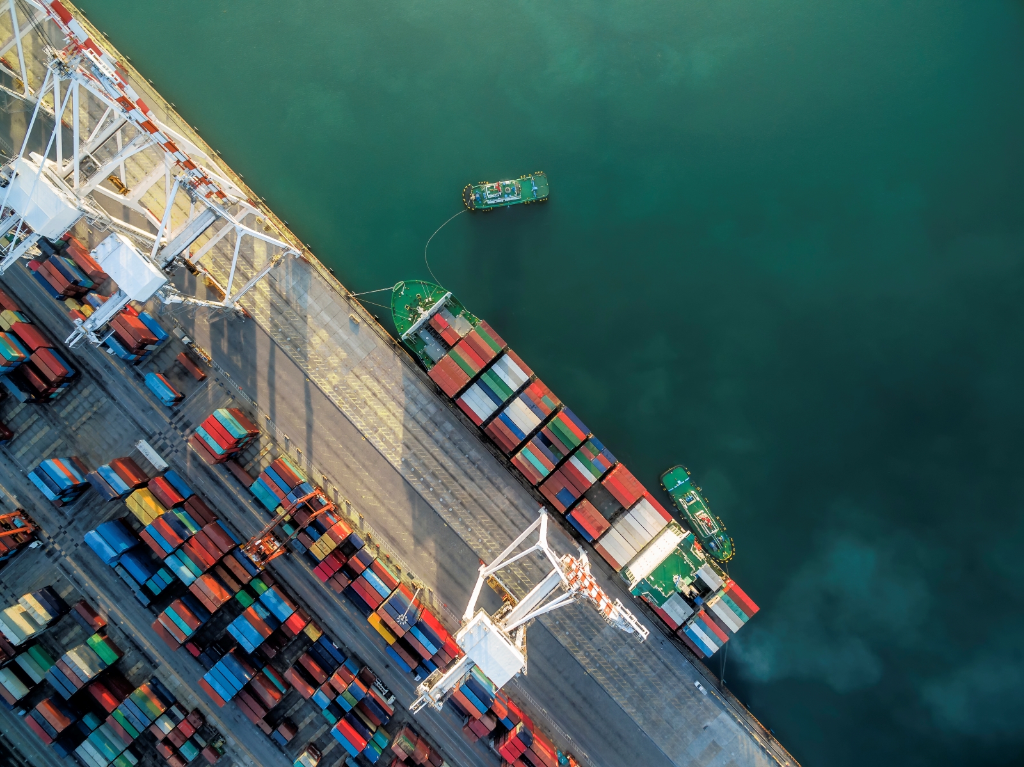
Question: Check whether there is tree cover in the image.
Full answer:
No, there's no tree cover in this view.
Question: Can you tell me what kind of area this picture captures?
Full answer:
This looks like a port.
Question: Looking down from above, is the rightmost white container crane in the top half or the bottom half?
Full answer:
Seen from above, the rightmost white container crane lies in the bottom half of the view.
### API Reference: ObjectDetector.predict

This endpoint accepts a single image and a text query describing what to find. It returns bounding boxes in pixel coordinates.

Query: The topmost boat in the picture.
[462,169,549,211]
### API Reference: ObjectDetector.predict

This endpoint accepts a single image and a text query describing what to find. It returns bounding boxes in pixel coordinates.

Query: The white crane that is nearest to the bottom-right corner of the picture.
[406,504,654,728]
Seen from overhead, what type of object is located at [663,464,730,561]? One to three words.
boat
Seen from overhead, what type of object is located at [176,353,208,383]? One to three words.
shipping container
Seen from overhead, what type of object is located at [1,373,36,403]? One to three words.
shipping container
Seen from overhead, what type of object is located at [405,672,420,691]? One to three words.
vehicle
